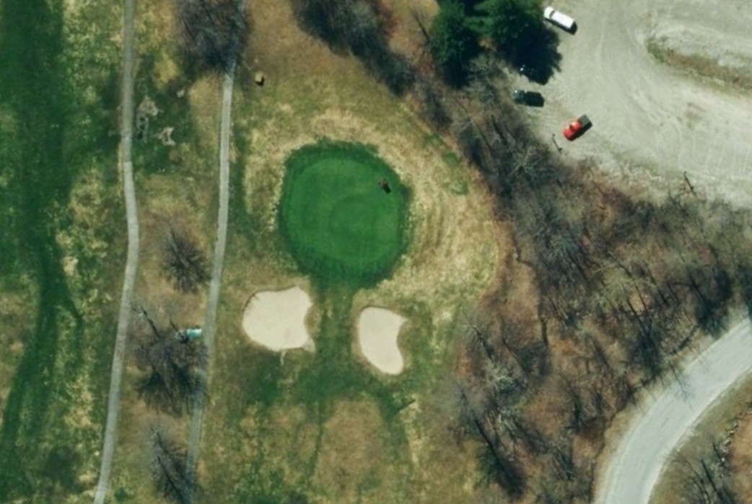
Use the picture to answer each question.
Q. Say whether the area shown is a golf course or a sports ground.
golf course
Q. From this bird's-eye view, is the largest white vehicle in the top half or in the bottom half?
top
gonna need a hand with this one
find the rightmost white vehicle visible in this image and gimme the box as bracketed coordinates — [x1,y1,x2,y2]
[543,7,576,34]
